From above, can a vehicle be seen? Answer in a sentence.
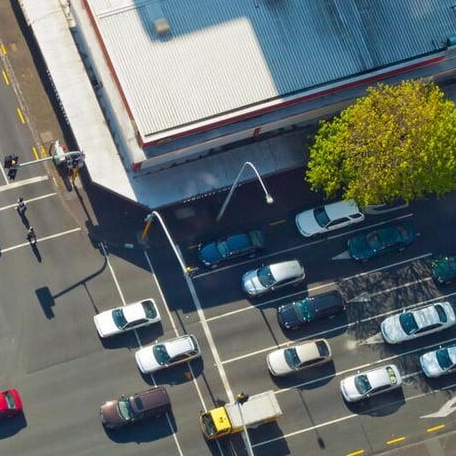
Yes, I can see a vehicle in this picture.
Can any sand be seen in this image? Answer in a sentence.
No, sand can't be seen anywhere here.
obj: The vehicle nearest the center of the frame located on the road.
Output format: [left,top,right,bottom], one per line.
[197,225,268,268]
